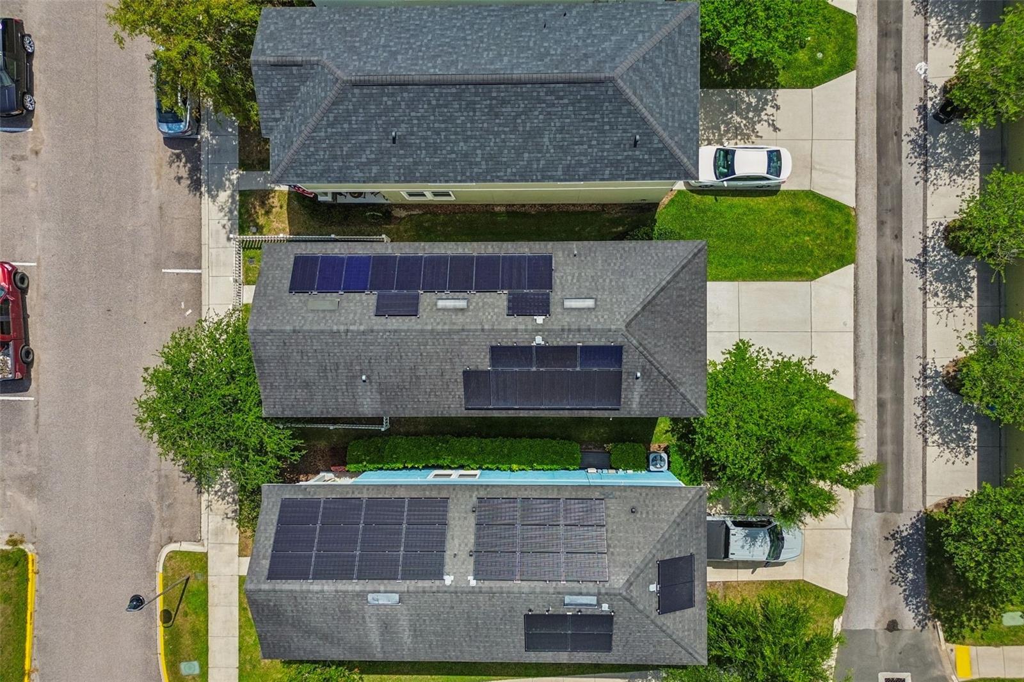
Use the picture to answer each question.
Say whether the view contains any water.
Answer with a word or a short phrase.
No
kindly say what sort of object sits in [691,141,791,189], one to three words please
car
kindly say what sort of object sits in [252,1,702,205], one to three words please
house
